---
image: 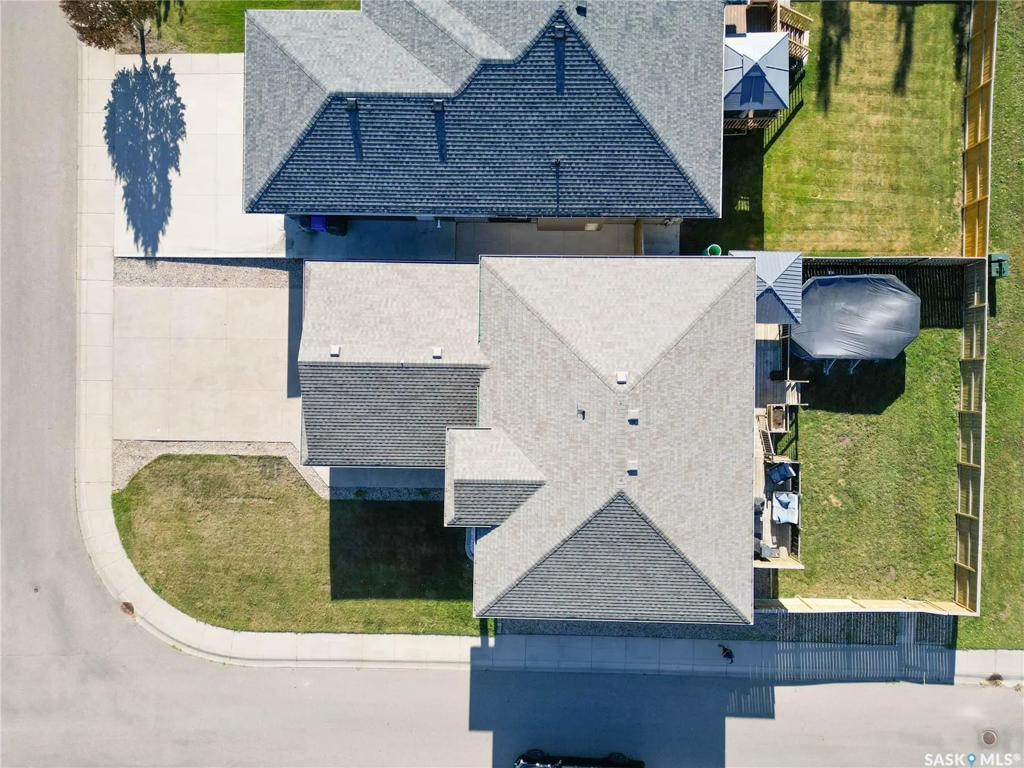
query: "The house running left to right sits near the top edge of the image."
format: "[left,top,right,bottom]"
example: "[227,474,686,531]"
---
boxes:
[243,0,724,230]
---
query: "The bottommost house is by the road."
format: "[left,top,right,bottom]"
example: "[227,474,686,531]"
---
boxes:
[302,256,756,622]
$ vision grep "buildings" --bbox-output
[302,256,756,622]
[243,0,724,230]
